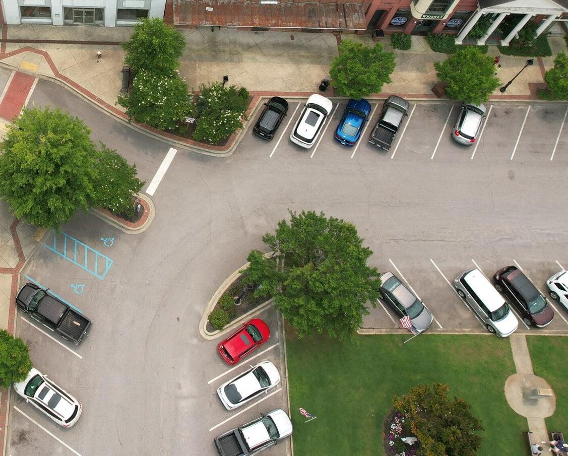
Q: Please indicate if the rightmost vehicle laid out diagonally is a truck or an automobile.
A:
automobile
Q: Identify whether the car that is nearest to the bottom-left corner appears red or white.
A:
white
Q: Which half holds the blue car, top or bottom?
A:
top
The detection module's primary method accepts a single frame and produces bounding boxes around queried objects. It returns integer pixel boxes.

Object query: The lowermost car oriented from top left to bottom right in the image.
[14,371,81,431]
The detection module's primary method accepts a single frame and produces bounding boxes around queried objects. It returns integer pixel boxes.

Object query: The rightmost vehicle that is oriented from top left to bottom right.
[492,261,554,331]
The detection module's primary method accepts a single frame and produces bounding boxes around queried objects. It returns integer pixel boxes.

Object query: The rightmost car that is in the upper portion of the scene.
[451,99,491,151]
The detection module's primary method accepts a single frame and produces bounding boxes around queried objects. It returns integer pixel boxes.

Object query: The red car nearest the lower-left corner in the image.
[215,318,274,369]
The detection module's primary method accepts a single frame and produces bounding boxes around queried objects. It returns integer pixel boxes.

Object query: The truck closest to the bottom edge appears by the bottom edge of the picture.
[211,406,294,456]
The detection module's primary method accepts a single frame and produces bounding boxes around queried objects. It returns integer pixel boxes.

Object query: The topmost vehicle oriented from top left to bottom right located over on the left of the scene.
[25,287,100,351]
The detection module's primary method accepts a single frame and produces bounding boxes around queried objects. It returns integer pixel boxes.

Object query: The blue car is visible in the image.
[333,96,371,151]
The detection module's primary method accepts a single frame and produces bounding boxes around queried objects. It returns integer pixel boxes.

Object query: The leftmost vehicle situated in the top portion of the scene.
[252,92,290,146]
